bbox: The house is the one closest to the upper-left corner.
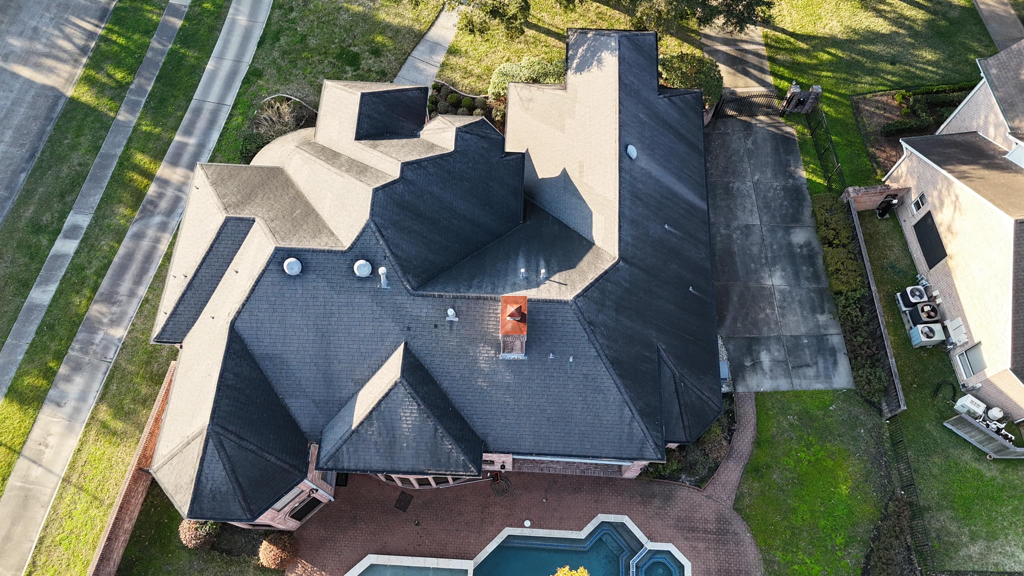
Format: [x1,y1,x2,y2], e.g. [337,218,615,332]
[146,26,725,531]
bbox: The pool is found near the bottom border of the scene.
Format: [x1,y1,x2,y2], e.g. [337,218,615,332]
[345,514,691,576]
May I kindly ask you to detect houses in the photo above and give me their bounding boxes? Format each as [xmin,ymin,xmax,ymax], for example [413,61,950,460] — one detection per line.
[881,52,1024,429]
[146,26,725,531]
